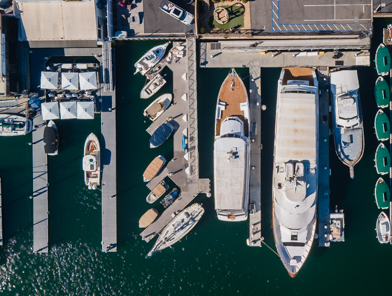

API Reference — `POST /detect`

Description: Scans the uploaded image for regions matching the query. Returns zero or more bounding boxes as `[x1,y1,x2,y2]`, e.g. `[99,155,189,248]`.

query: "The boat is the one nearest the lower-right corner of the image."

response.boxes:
[375,210,392,244]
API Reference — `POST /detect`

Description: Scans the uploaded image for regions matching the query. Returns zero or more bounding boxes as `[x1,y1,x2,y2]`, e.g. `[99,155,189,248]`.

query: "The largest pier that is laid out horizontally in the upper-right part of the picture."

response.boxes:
[199,40,372,68]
